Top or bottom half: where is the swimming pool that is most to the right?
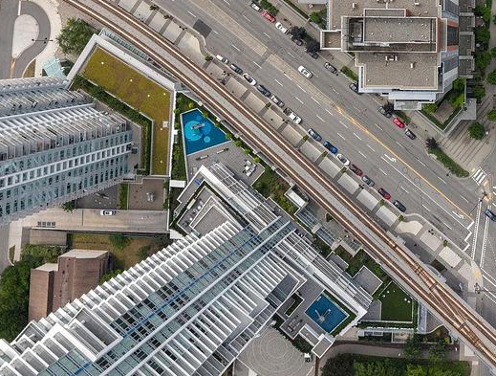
bottom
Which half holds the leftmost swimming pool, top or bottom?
top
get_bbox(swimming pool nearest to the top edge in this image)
[180,107,234,155]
